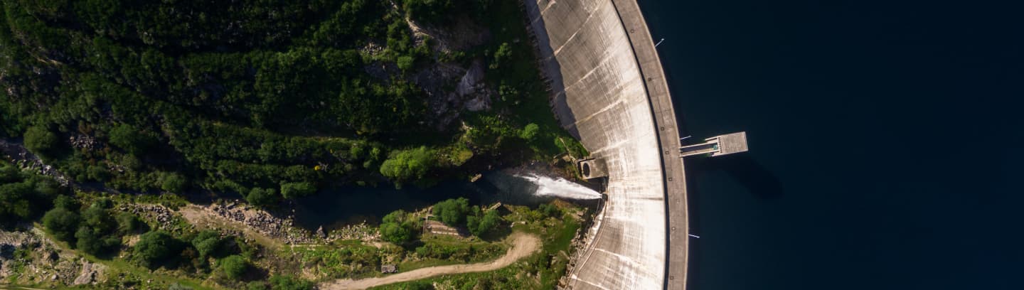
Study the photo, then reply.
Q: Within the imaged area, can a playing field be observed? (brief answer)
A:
No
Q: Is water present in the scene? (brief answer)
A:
Yes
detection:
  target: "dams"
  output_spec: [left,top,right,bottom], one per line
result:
[518,0,691,290]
